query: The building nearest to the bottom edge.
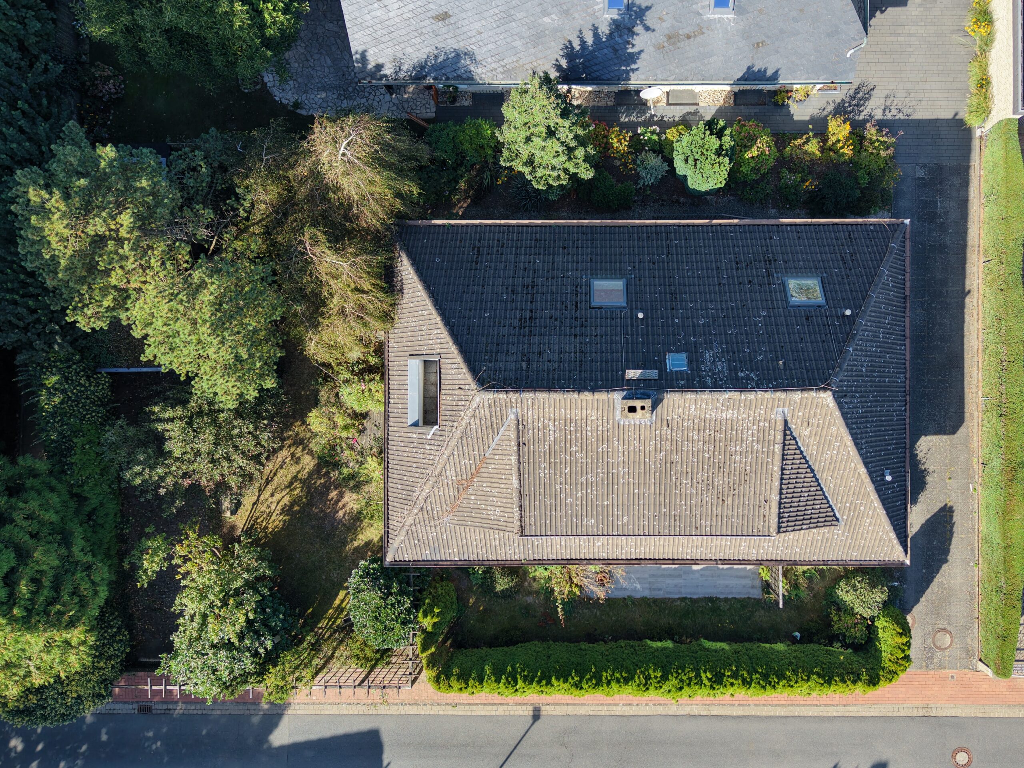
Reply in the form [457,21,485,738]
[385,220,912,566]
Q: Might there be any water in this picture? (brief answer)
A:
No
